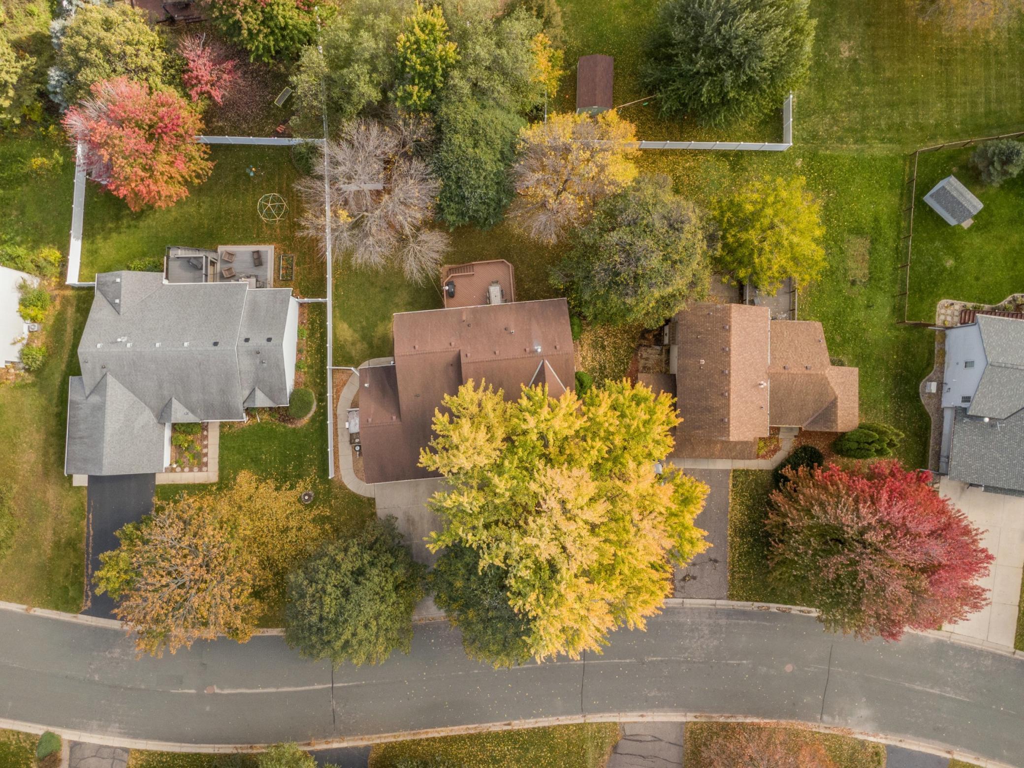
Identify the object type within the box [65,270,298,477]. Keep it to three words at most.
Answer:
house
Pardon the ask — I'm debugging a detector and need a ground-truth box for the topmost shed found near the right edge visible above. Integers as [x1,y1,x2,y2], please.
[923,171,987,227]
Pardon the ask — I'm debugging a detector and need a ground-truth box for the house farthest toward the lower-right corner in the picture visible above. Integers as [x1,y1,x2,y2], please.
[936,312,1024,498]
